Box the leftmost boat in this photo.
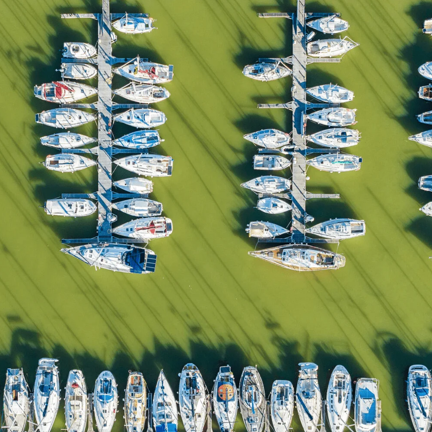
[0,370,30,432]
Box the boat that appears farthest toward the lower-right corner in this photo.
[401,366,432,432]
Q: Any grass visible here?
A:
No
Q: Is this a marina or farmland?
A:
marina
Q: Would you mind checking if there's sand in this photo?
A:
No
